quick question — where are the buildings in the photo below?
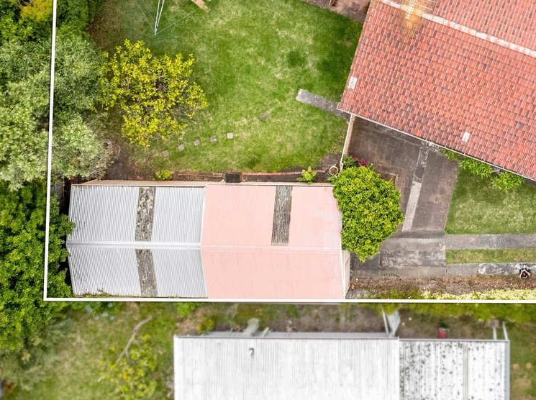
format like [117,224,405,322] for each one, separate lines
[171,319,509,400]
[63,180,352,300]
[337,0,536,182]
